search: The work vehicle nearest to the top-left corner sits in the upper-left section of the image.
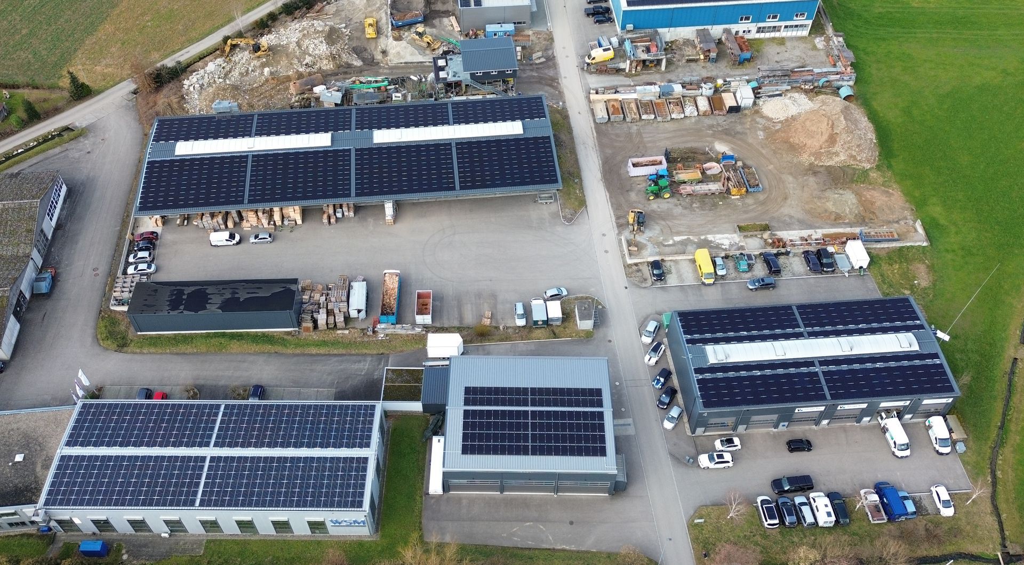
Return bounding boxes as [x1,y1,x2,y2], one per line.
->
[225,34,272,58]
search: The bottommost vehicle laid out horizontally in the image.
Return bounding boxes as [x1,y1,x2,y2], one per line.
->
[770,472,817,496]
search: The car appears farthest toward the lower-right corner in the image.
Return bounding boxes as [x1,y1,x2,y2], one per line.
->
[930,485,954,517]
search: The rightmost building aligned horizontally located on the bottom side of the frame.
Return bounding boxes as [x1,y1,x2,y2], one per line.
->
[667,295,961,434]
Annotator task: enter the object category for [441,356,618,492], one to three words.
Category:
building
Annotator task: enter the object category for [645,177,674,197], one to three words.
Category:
work vehicle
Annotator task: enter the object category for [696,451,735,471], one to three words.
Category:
car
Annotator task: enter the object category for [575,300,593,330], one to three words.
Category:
shed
